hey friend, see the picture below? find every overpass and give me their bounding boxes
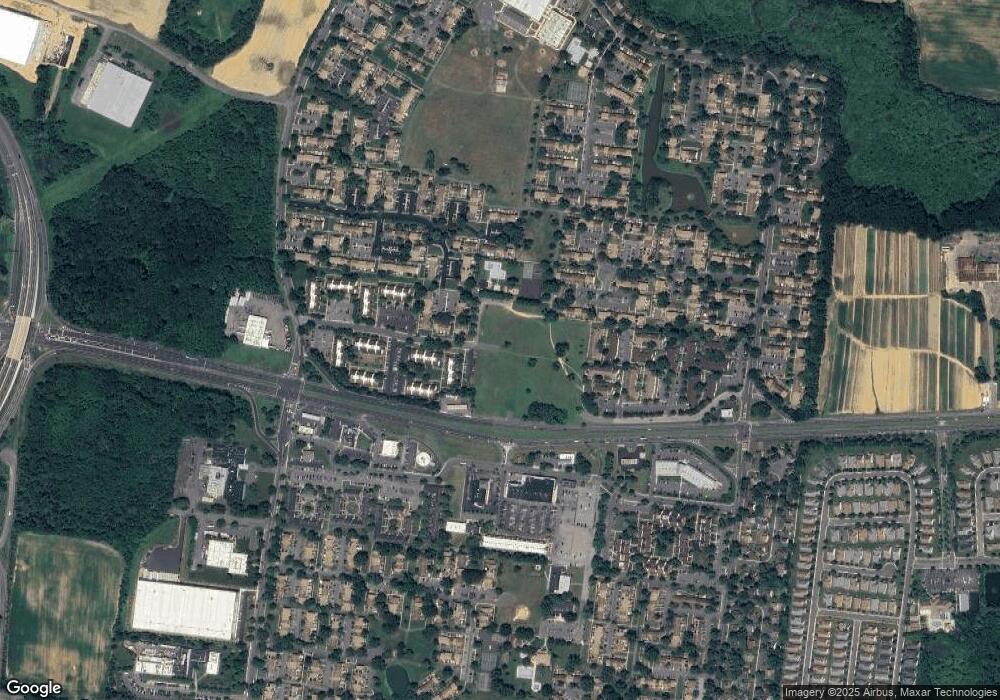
[5,315,30,361]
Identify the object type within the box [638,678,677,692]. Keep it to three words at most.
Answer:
house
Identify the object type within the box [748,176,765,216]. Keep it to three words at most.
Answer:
house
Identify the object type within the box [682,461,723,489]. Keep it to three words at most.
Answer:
building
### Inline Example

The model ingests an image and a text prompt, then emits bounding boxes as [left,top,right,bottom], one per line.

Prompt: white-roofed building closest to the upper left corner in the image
[0,8,38,64]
